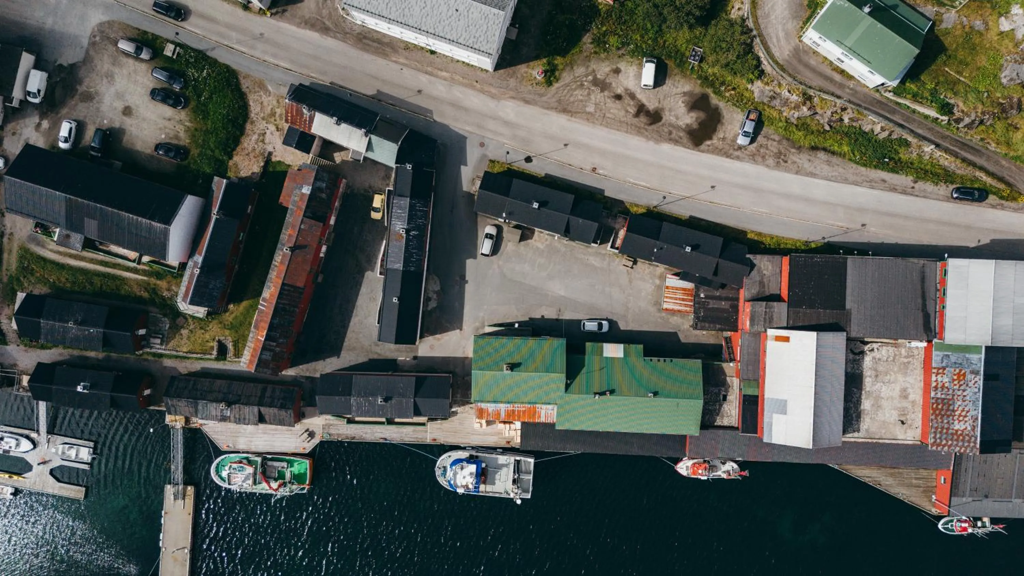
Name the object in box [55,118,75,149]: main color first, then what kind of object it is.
white car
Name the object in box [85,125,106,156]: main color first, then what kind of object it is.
black car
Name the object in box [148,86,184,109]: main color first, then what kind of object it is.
black car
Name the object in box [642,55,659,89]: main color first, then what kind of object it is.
white vehicle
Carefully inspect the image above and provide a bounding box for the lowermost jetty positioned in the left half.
[158,483,196,576]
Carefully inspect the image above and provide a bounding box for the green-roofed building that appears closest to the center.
[472,326,565,421]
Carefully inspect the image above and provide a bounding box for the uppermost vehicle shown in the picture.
[147,0,185,21]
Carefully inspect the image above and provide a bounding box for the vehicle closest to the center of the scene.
[479,224,497,257]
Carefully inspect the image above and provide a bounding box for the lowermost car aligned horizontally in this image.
[580,319,610,334]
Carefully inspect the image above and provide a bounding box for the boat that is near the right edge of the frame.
[935,516,1008,540]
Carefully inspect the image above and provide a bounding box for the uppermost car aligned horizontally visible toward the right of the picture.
[953,185,991,201]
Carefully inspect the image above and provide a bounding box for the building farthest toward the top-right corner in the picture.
[806,0,932,91]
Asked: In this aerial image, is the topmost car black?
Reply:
Yes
